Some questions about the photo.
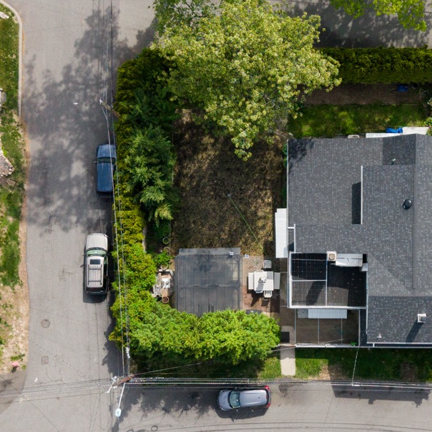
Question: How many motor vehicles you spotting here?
3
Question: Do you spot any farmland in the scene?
No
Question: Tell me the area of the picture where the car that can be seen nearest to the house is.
bottom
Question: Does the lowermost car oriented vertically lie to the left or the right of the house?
to the left of it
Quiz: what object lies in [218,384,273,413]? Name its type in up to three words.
car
